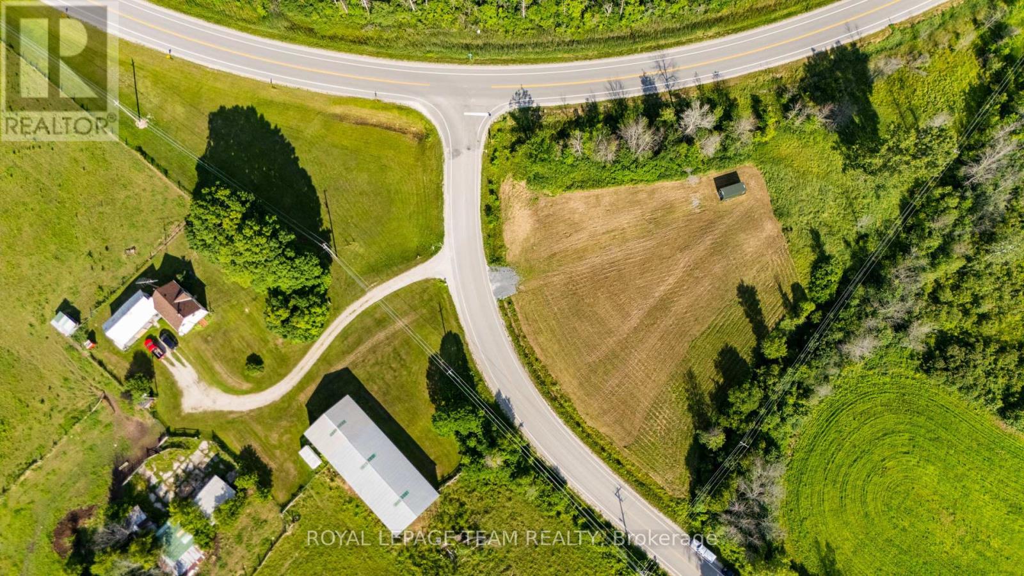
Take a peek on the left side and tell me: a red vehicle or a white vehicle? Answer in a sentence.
What appears on the left side is a red vehicle.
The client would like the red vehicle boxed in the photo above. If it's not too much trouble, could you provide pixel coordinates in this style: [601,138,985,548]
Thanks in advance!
[143,337,166,362]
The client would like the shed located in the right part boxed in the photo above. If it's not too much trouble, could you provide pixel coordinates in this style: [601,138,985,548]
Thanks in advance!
[718,181,747,202]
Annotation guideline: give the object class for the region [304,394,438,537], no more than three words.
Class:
shed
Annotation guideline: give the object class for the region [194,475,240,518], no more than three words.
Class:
shed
